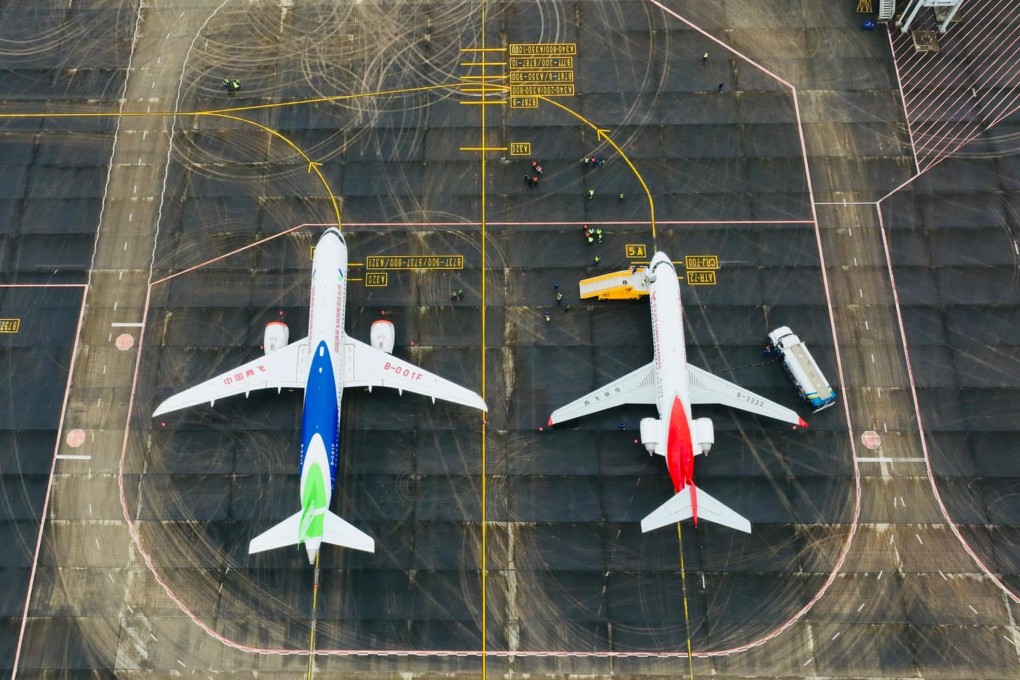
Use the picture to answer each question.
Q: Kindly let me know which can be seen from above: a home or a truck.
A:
truck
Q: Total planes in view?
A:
2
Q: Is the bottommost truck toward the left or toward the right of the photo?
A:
right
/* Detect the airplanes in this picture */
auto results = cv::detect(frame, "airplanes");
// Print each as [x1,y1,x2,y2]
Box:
[550,251,808,533]
[152,228,488,564]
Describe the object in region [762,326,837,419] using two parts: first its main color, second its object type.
white truck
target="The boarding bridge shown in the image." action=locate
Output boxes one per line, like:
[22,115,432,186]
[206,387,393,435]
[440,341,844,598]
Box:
[894,0,967,35]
